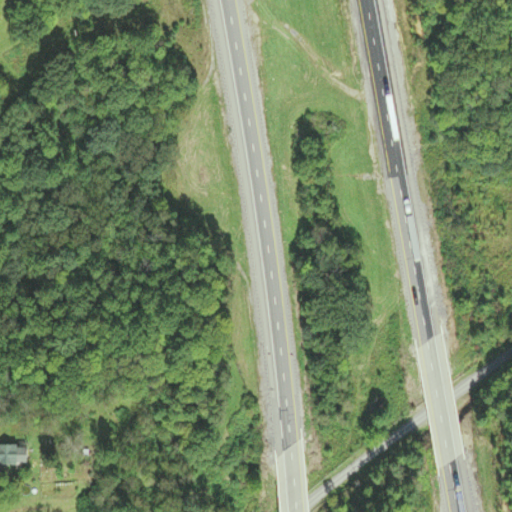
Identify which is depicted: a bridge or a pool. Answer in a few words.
bridge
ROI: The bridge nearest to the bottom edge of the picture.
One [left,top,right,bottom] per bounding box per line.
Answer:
[276,428,309,512]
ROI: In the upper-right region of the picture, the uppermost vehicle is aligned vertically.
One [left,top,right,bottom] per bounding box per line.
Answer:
[382,76,400,142]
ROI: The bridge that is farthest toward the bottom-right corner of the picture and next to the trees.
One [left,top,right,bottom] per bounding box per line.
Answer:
[415,322,466,477]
